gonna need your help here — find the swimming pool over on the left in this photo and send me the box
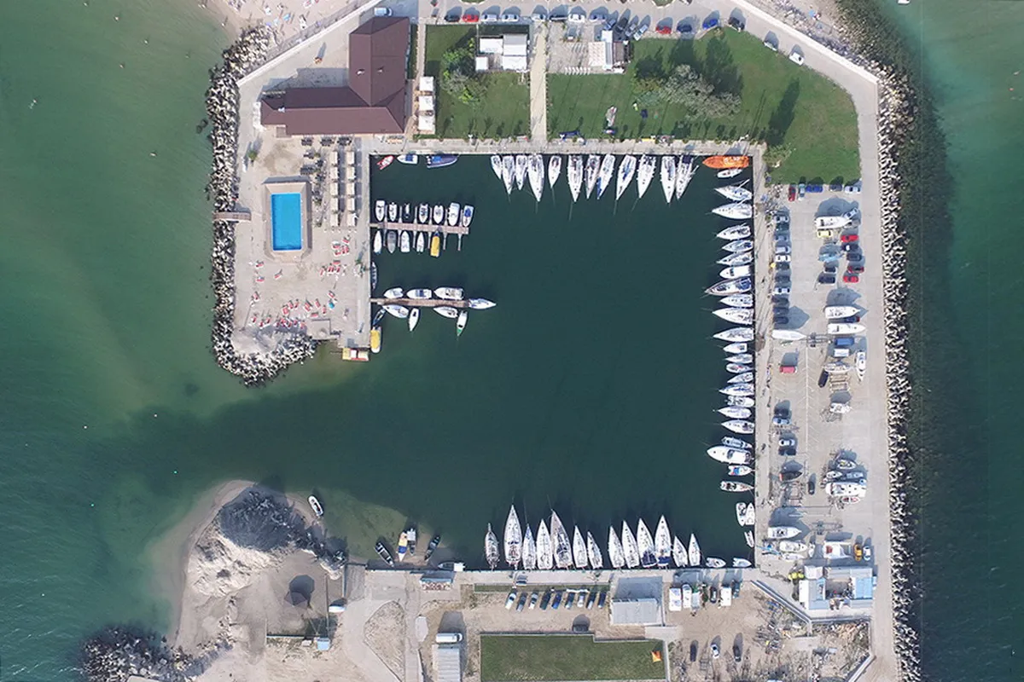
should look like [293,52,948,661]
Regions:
[263,182,317,263]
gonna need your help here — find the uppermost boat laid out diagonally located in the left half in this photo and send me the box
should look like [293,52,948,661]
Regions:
[378,156,393,170]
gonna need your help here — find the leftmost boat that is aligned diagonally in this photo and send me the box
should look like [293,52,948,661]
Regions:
[307,495,325,517]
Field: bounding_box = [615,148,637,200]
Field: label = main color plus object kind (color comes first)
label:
white boat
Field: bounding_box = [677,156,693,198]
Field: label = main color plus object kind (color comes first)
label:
white boat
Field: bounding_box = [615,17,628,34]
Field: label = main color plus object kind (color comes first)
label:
black vehicle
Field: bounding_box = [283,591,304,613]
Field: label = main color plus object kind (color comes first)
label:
gray umbrella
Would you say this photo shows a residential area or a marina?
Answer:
marina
